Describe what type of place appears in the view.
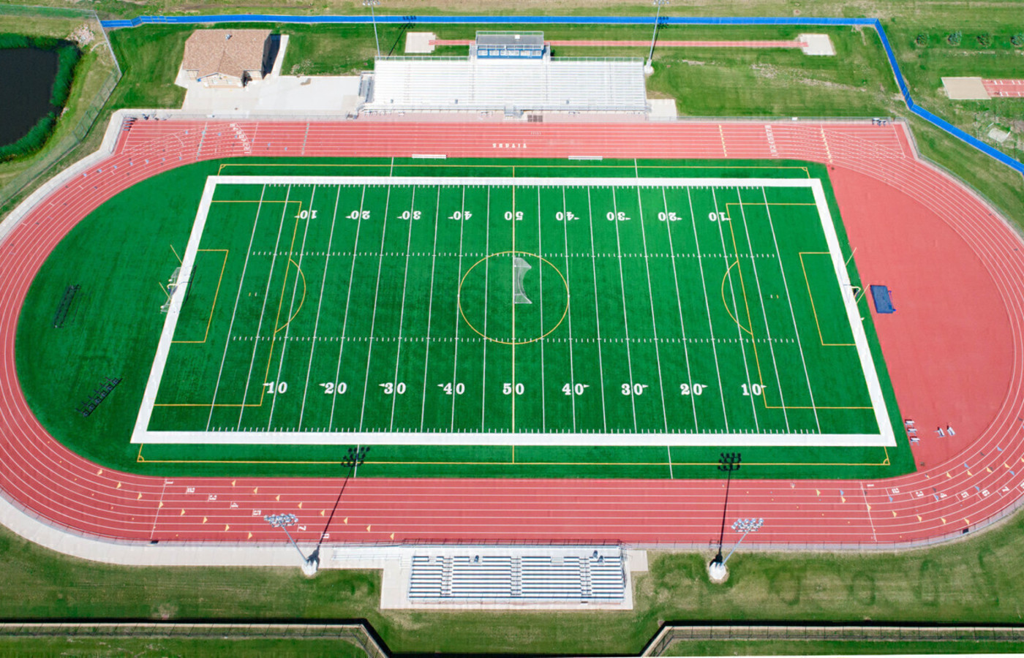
sports ground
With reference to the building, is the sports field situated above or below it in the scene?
below it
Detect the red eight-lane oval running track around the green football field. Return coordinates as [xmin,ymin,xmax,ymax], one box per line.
[0,114,1024,553]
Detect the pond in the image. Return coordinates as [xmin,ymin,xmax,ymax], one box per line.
[0,40,79,148]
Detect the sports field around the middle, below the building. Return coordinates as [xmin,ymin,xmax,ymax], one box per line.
[14,156,919,480]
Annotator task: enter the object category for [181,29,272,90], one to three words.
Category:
building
